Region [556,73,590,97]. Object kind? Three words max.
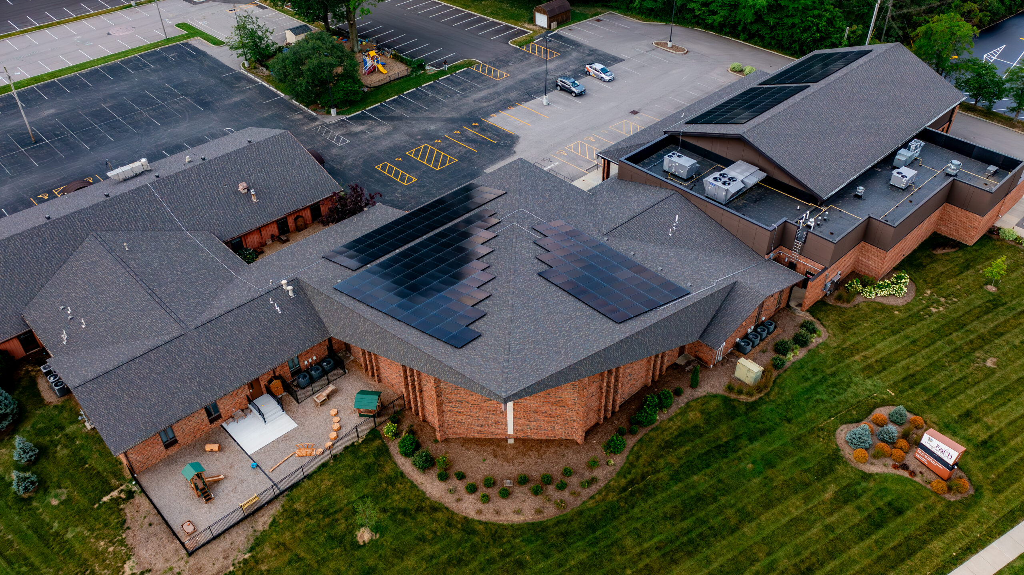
car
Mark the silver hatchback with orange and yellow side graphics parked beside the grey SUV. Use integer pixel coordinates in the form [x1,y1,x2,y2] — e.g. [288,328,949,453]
[584,61,617,82]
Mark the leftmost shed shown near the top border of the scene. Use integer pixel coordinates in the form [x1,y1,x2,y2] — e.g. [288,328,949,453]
[283,14,312,41]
